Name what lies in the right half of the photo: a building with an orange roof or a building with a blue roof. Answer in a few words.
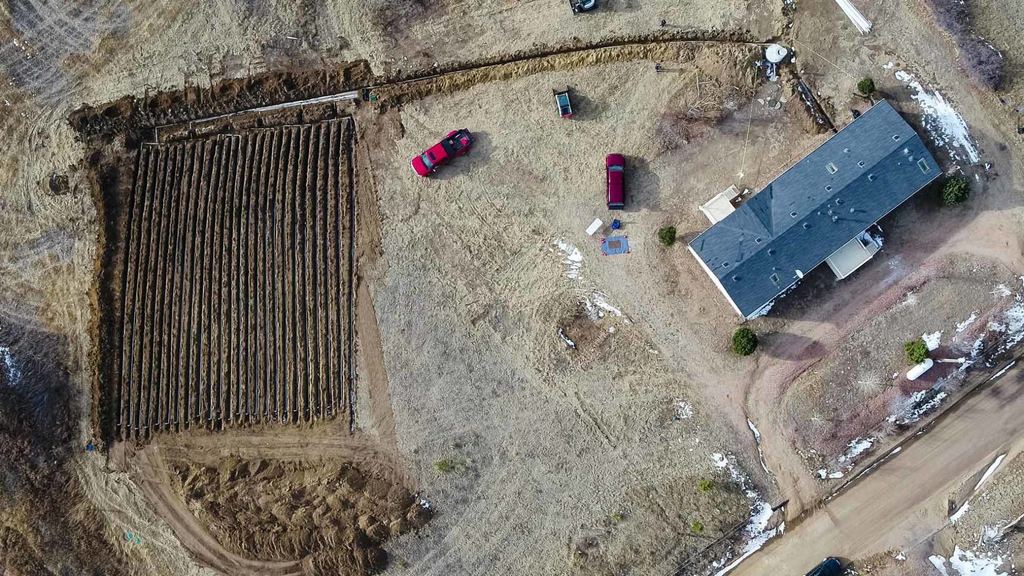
building with a blue roof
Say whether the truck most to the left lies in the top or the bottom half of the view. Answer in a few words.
top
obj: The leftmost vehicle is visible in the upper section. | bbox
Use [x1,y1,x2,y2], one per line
[410,127,475,175]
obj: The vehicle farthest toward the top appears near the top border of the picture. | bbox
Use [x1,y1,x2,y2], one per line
[569,0,594,22]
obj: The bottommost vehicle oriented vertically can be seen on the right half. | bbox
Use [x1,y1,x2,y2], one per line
[605,154,628,210]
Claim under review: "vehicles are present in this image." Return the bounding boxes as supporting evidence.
[605,154,628,210]
[569,0,594,22]
[410,127,475,175]
[554,86,574,120]
[798,557,842,576]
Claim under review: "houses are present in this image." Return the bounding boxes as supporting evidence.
[685,97,942,319]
